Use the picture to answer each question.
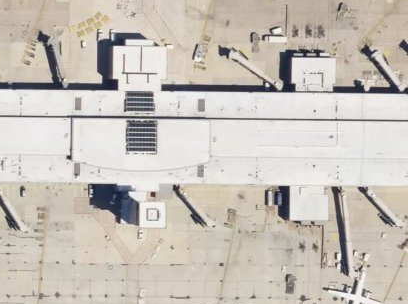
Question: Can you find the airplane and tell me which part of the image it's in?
bottom right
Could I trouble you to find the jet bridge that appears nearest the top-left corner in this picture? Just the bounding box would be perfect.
[47,39,68,90]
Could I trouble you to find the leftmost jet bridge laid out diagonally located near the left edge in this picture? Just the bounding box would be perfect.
[0,187,30,235]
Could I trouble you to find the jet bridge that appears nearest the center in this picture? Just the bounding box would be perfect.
[174,184,218,230]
